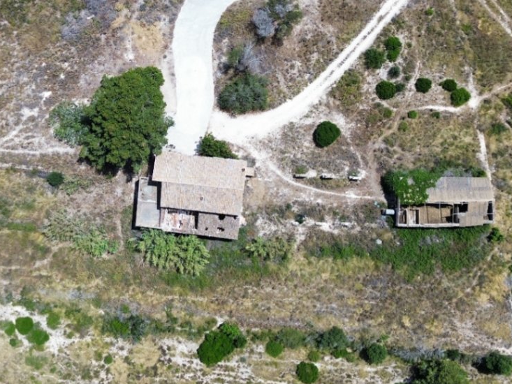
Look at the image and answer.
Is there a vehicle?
No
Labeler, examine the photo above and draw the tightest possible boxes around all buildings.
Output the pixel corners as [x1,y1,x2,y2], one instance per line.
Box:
[390,176,494,228]
[136,156,254,241]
